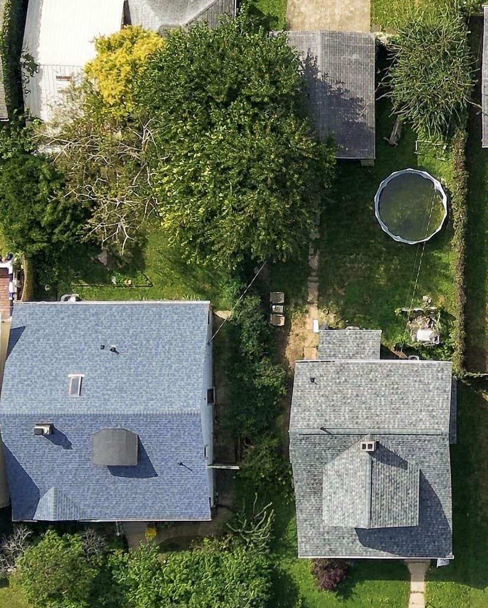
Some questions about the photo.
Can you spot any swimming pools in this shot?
Yes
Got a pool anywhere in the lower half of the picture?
No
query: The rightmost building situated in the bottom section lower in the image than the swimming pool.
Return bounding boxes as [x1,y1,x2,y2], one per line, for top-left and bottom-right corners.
[288,329,457,566]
